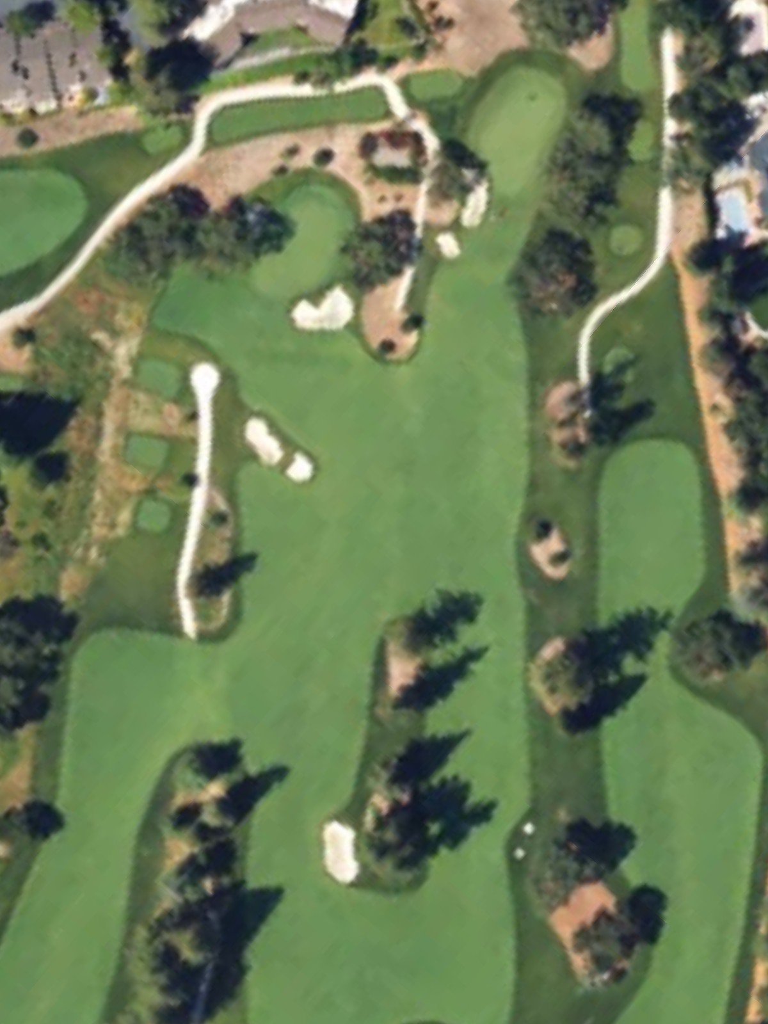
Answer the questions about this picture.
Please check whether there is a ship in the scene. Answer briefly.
No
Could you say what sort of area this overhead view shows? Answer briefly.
golf course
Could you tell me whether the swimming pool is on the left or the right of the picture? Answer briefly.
right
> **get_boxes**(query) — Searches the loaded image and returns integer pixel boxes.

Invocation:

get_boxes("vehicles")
[524,823,532,834]
[515,848,524,859]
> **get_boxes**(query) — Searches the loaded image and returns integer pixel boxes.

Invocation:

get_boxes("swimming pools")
[727,190,753,234]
